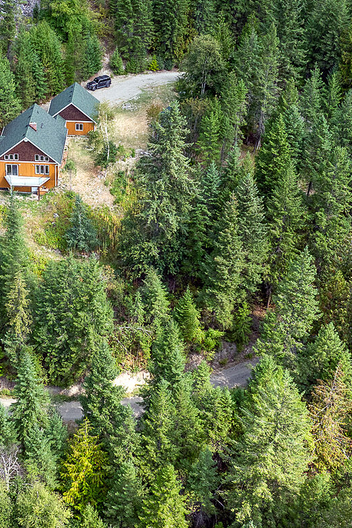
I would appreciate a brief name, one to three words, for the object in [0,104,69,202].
house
